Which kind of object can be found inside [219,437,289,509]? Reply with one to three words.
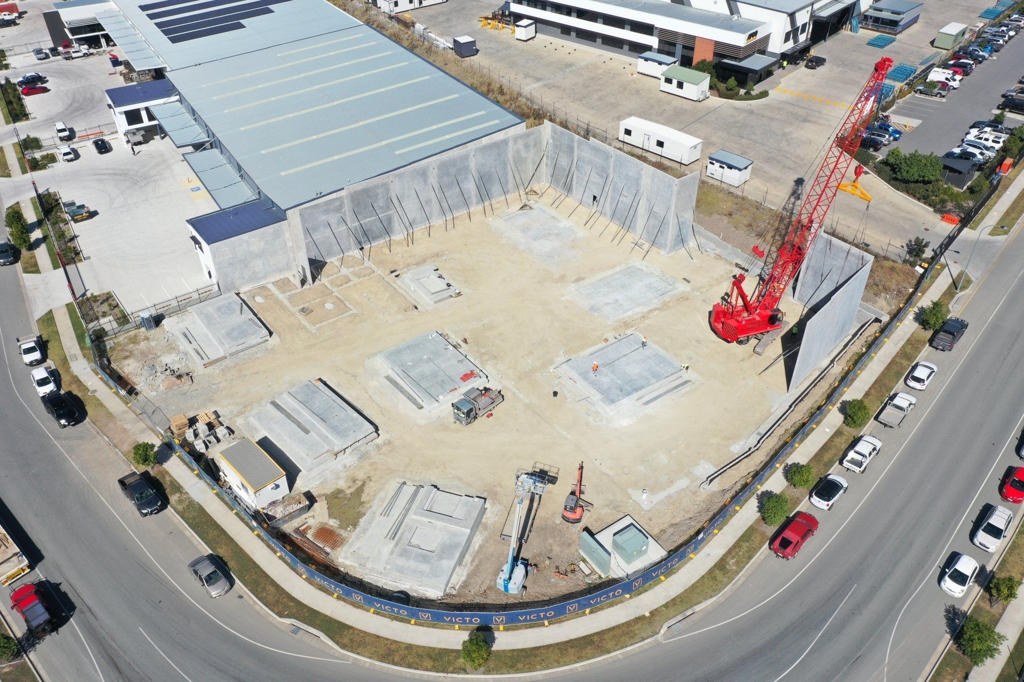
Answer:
shed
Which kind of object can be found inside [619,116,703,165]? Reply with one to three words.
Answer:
building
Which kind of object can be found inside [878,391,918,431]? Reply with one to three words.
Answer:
truck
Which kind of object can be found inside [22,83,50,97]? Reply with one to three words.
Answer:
car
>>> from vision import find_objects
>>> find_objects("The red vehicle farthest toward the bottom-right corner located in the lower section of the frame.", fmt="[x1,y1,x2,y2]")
[1000,462,1024,504]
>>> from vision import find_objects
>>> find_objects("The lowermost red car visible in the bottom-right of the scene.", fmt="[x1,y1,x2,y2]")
[773,514,816,559]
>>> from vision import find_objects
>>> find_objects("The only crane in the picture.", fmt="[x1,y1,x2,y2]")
[711,63,892,359]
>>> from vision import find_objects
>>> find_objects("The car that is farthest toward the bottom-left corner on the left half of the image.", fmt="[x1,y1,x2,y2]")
[10,580,54,634]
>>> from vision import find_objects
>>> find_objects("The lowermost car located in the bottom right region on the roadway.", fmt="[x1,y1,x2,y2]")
[940,550,980,601]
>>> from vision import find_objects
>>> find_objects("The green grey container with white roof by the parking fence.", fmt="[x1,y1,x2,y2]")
[935,22,968,49]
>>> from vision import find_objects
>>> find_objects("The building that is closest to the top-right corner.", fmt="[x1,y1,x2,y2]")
[862,0,924,42]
